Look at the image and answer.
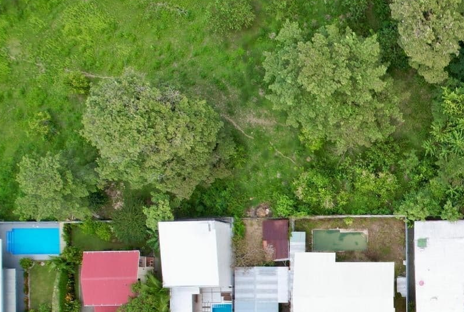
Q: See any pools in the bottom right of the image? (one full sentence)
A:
Yes, I can see a pool in the bottom right of the image.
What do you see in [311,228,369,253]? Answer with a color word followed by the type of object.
green swimming pool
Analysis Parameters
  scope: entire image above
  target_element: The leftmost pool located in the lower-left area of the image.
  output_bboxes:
[5,226,61,256]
